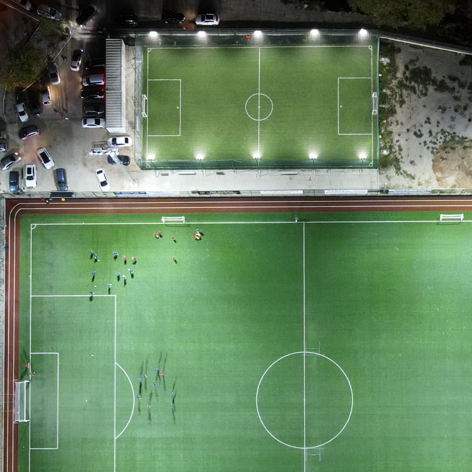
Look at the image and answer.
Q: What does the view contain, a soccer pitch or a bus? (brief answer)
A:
soccer pitch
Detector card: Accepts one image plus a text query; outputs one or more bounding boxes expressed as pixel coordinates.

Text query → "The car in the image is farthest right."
[195,12,219,26]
